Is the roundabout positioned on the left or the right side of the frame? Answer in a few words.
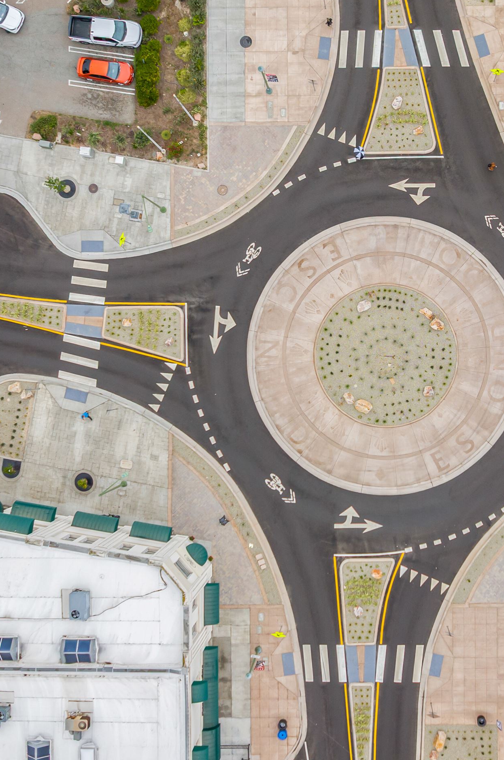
right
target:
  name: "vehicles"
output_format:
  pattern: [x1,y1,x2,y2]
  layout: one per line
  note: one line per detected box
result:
[0,0,27,36]
[75,57,137,87]
[66,14,144,49]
